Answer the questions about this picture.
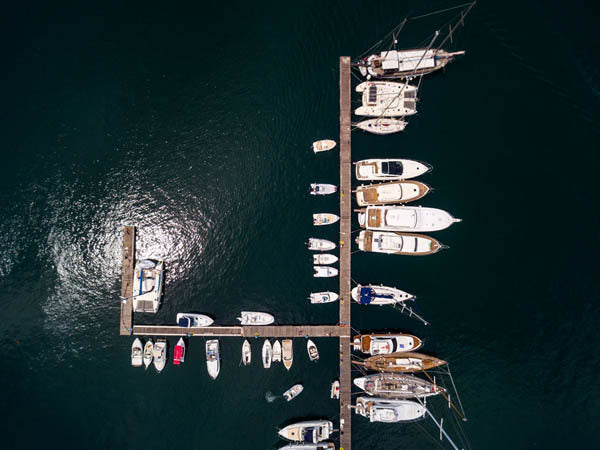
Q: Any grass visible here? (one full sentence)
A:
No, the scene doesn't show any grass.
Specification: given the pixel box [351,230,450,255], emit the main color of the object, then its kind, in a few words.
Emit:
white boat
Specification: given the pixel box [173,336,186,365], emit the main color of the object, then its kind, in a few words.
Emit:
red boat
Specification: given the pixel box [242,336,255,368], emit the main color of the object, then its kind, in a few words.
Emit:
white boat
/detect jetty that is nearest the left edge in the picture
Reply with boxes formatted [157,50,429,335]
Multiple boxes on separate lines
[120,226,137,335]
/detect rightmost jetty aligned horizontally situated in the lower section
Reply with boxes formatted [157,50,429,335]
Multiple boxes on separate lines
[242,324,340,337]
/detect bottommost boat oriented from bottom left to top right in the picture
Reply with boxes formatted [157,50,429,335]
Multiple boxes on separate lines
[282,384,304,403]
